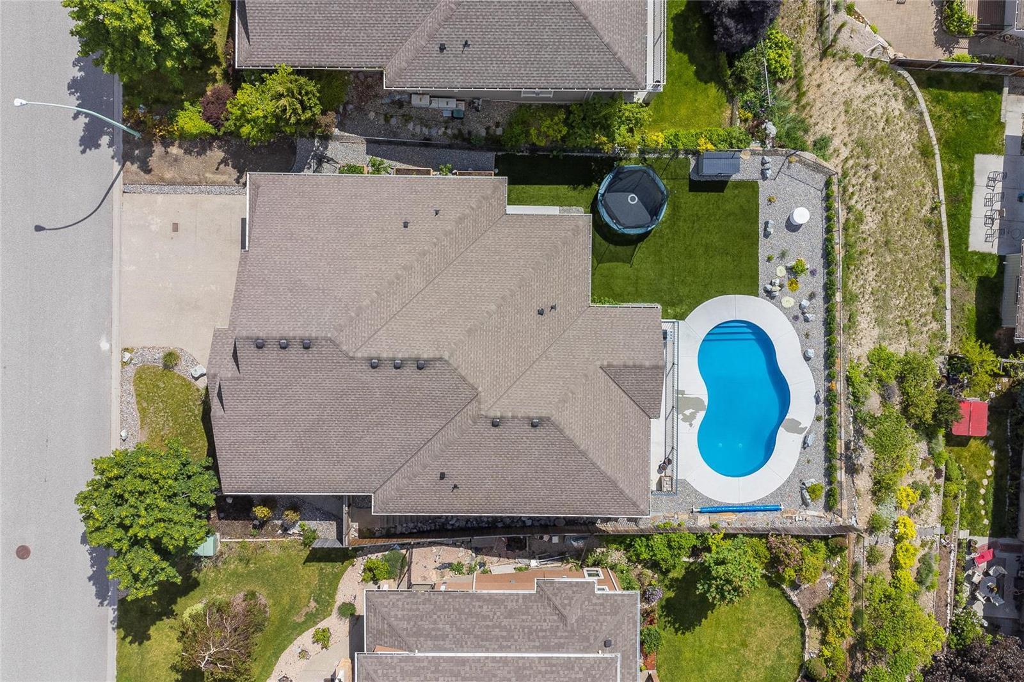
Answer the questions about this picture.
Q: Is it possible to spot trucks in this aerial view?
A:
No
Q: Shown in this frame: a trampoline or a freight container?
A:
trampoline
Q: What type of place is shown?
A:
residential area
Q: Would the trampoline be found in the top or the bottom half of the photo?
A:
top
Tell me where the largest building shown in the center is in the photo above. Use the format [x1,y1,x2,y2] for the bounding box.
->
[207,172,665,519]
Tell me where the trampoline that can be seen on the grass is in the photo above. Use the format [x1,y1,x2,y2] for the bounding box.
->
[595,163,672,234]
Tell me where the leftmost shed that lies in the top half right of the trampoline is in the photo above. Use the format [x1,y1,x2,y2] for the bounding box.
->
[701,149,744,174]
